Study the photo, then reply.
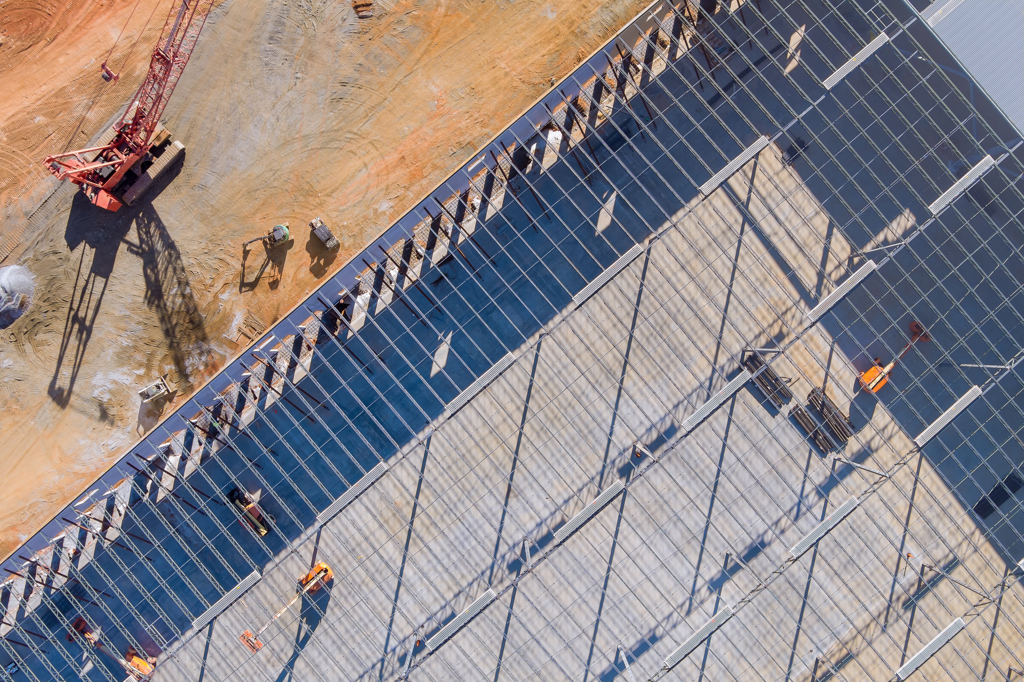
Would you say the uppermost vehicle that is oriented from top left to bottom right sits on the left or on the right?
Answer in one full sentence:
It is on the left.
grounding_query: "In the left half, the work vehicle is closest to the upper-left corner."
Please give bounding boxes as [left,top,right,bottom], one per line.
[243,222,295,250]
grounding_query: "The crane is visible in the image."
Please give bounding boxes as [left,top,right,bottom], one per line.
[37,0,211,212]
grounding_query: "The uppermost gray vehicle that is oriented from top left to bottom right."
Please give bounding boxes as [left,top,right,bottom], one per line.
[307,213,339,249]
